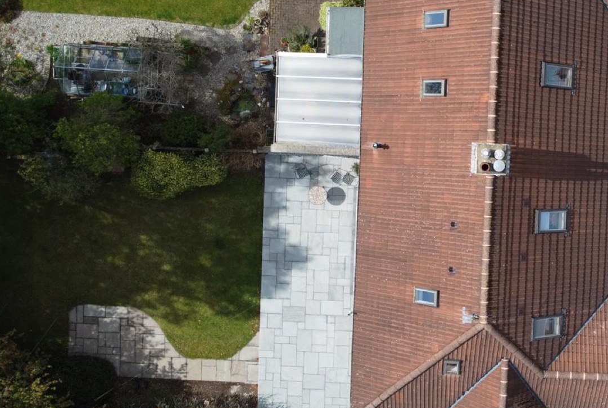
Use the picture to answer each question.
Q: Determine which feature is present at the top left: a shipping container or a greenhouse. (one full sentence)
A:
It is a greenhouse that can be seen at the top left.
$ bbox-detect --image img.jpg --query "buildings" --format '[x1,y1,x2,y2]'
[346,0,608,408]
[53,43,159,98]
